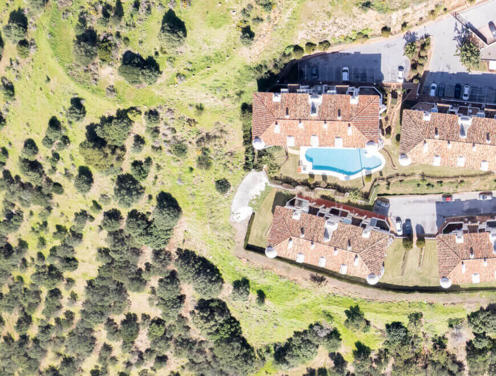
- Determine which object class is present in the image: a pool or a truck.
pool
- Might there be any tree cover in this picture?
Yes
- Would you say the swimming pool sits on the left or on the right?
right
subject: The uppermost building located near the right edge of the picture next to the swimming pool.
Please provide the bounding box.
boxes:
[397,101,496,170]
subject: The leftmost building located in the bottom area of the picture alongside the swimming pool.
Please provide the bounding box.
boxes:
[264,196,399,283]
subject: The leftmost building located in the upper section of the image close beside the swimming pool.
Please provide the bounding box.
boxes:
[251,82,393,156]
